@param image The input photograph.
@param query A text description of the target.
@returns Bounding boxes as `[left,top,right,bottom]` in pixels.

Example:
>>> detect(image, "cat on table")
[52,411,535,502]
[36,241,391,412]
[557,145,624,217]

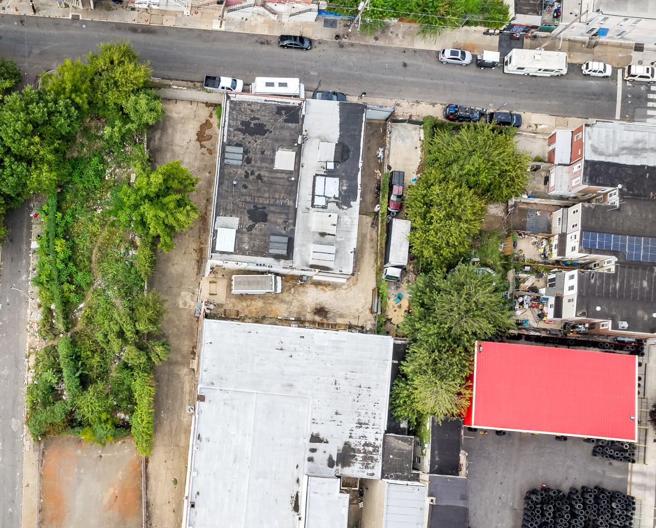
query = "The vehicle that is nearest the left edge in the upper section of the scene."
[204,74,242,93]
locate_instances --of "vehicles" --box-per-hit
[388,169,406,215]
[504,49,571,77]
[622,65,656,83]
[204,74,242,93]
[312,90,346,103]
[382,215,411,281]
[442,104,478,122]
[278,34,310,52]
[486,111,521,126]
[438,49,470,65]
[580,61,609,78]
[227,274,278,294]
[246,74,301,99]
